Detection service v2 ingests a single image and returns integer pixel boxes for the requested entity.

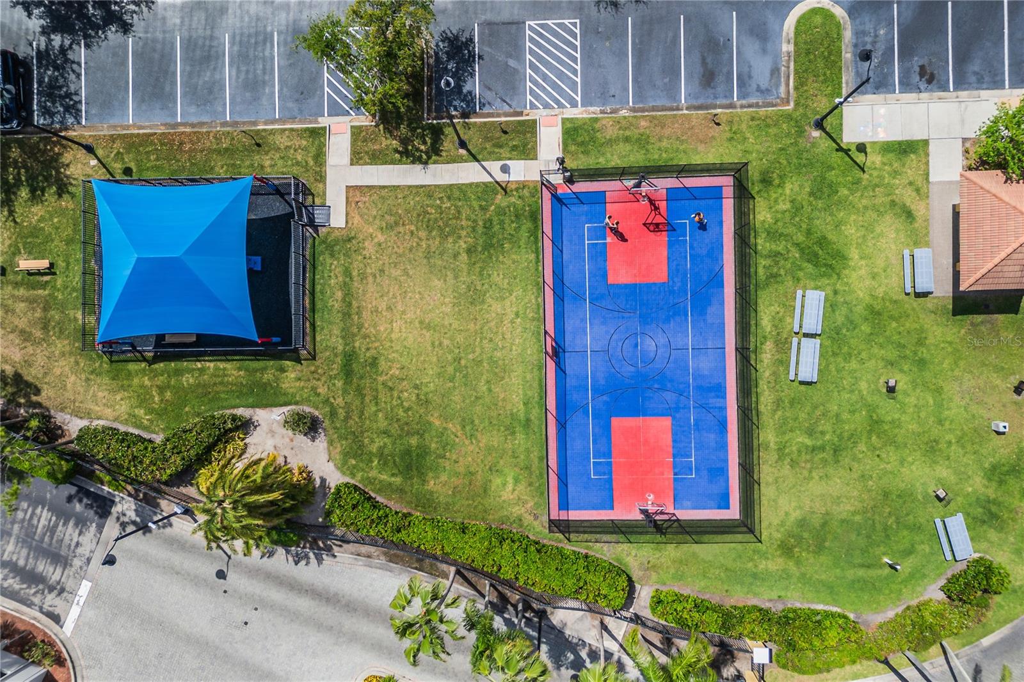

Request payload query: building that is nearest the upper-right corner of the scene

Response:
[948,170,1024,292]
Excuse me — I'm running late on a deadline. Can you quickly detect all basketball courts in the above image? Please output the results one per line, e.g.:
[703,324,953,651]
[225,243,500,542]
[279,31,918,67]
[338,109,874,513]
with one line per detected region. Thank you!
[540,172,741,522]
